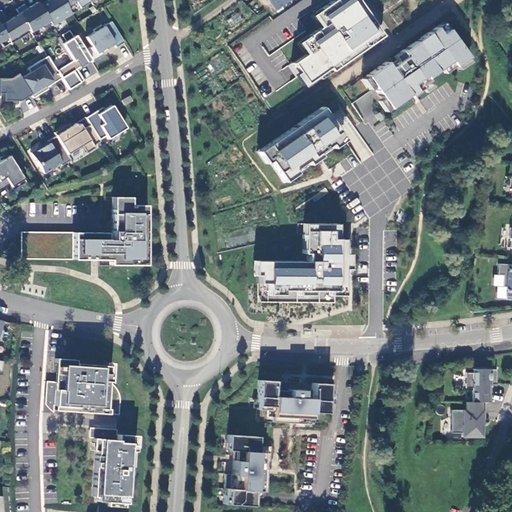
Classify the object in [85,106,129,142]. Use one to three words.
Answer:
house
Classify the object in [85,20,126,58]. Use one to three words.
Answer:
house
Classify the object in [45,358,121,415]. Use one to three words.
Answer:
building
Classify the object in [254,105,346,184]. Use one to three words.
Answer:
building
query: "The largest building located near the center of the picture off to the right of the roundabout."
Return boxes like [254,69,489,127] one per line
[250,222,356,304]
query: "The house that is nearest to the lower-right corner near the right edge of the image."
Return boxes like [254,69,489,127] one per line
[450,369,498,438]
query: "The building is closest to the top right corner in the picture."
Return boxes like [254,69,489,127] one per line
[358,19,475,116]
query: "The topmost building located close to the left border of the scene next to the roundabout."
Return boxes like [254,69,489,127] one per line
[20,197,152,267]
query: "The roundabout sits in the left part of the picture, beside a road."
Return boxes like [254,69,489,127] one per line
[122,270,258,405]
